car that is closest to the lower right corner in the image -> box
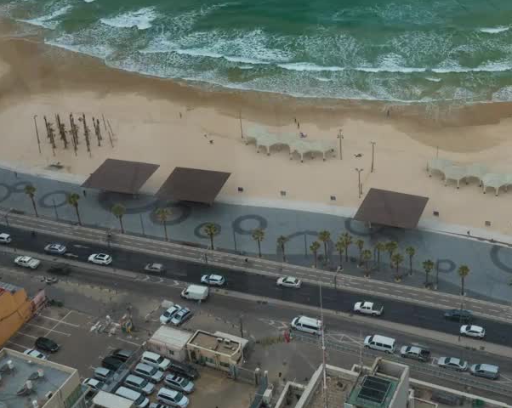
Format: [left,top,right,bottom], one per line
[472,363,497,379]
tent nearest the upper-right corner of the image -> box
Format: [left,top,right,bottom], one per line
[424,162,512,204]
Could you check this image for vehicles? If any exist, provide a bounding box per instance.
[102,352,124,368]
[14,256,40,269]
[171,309,192,325]
[45,243,67,255]
[122,373,153,393]
[168,362,195,378]
[439,357,465,372]
[93,363,115,378]
[472,363,497,379]
[86,377,113,392]
[23,348,49,360]
[144,264,164,273]
[140,351,170,370]
[35,336,58,353]
[130,361,159,381]
[164,372,193,392]
[445,308,471,322]
[202,274,224,286]
[0,233,12,243]
[156,386,187,407]
[89,254,112,266]
[460,324,484,338]
[291,314,322,333]
[181,282,209,300]
[402,346,429,361]
[354,302,382,316]
[161,306,183,321]
[364,333,395,351]
[276,277,301,289]
[116,385,147,407]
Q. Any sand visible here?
Yes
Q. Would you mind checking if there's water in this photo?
Yes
